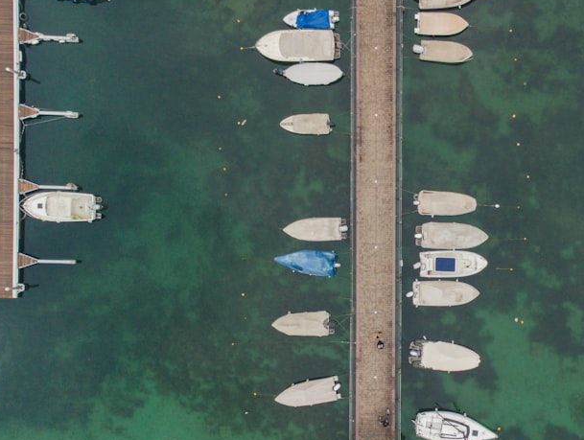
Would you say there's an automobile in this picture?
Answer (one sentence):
No, the scene contains no automobile.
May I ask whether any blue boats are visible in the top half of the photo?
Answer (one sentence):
Yes, a blue boat can be seen in the top half of the photo.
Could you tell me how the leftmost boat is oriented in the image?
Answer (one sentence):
The leftmost boat is oriented horizontally.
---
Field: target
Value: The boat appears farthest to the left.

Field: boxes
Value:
[19,189,108,224]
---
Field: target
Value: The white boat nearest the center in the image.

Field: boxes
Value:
[282,216,348,242]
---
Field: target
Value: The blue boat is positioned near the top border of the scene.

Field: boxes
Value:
[283,6,339,29]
